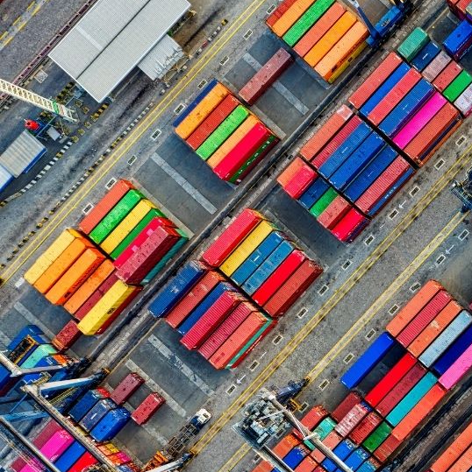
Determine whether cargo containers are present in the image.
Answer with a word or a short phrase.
Yes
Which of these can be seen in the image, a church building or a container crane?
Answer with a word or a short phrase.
container crane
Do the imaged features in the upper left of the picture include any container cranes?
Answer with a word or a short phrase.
No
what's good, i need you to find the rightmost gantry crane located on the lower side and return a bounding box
[225,374,401,472]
